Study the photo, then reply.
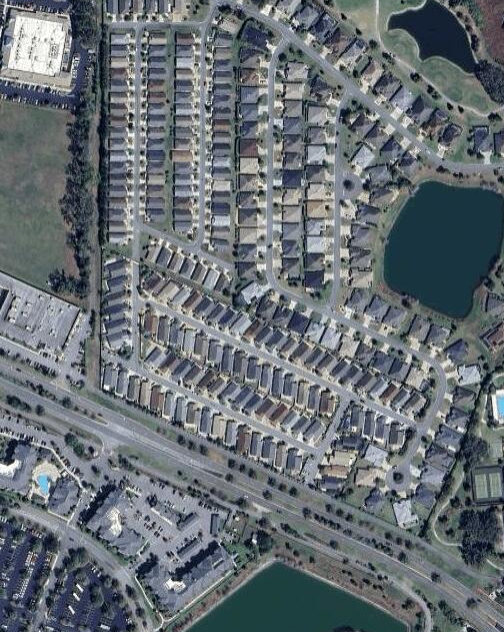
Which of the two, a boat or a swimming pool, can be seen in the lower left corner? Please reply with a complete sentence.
Visible in the lower left corner is a swimming pool.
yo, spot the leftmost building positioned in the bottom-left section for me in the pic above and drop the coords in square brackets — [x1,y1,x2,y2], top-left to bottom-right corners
[0,442,33,495]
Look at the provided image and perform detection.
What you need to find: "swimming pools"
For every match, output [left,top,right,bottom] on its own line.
[492,389,504,424]
[28,461,60,500]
